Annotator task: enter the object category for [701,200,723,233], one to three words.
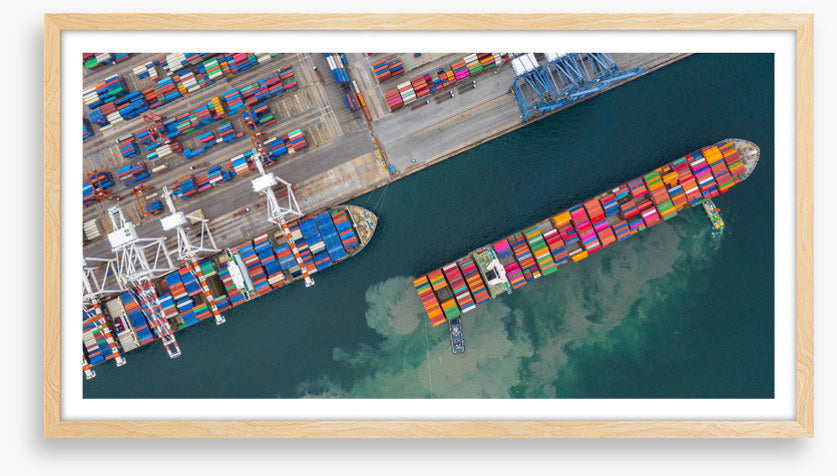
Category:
boat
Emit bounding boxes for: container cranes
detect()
[248,148,314,285]
[132,186,166,218]
[87,169,122,200]
[157,186,228,321]
[83,251,133,364]
[100,205,178,360]
[535,53,611,103]
[143,112,177,147]
[504,53,574,123]
[239,104,270,140]
[566,53,649,89]
[251,134,280,168]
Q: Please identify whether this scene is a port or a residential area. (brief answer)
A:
port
